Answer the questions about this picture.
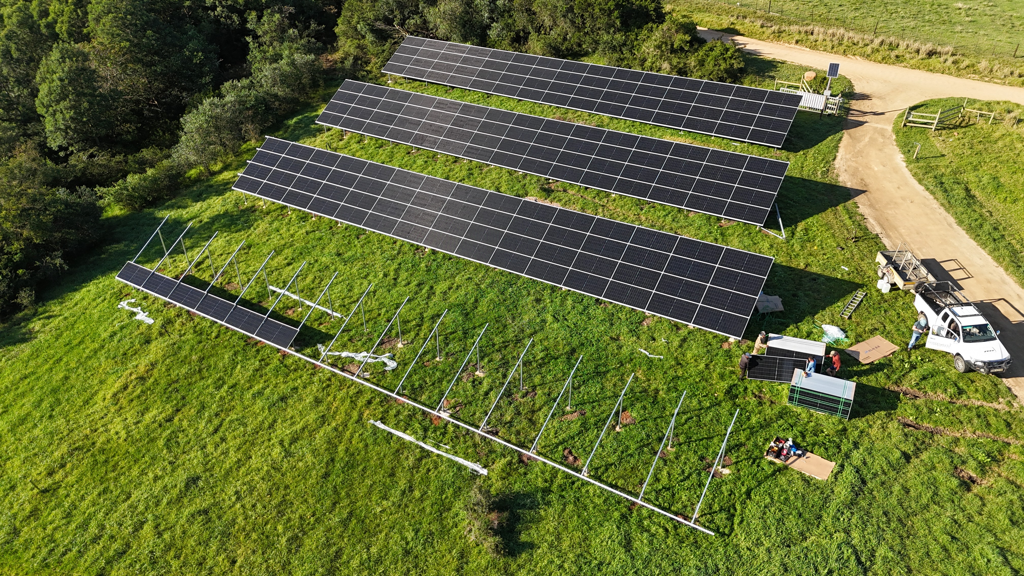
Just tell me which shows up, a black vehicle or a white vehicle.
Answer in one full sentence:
Looking from above, you can make out a white vehicle.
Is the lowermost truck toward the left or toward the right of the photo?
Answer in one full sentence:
The lowermost truck appears in the right half of the scene.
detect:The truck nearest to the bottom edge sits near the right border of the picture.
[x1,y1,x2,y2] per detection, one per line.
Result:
[910,282,1013,377]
